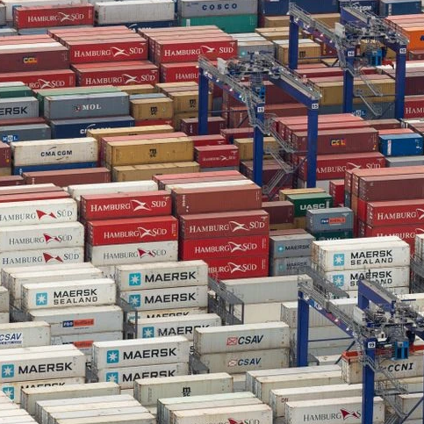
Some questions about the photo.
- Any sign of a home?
No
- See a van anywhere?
No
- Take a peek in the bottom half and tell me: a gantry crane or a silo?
gantry crane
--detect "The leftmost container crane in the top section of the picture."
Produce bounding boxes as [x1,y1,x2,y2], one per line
[193,53,328,202]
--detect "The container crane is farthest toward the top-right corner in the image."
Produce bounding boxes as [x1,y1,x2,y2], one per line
[285,0,419,130]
